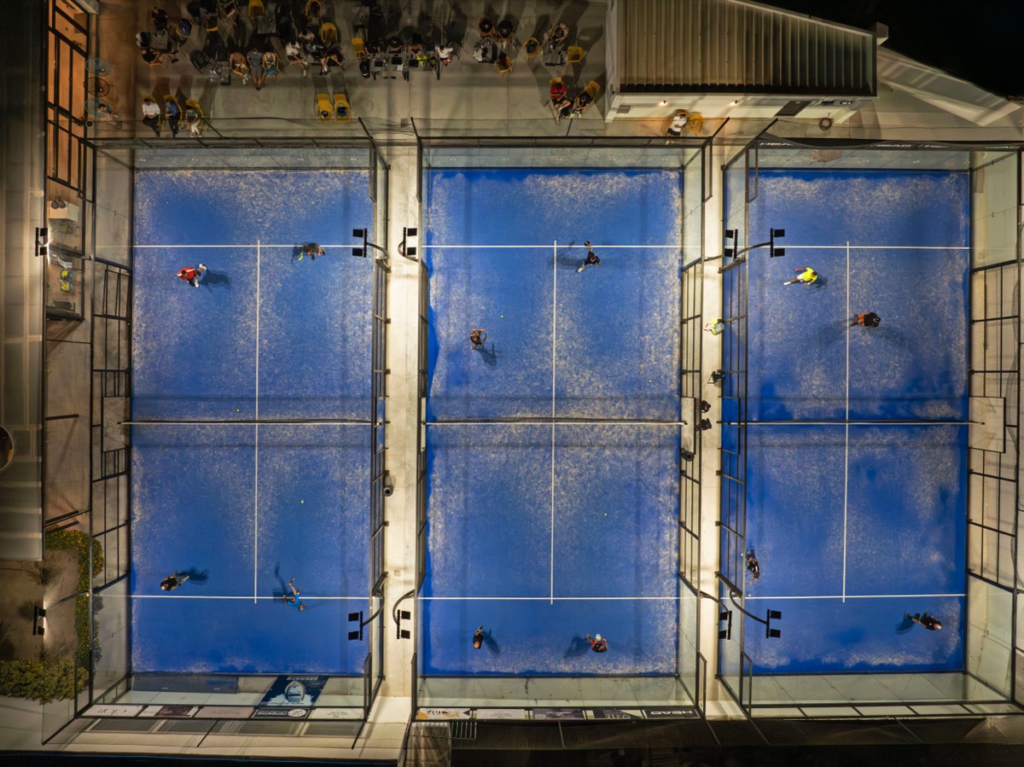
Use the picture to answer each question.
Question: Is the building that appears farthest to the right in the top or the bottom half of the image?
top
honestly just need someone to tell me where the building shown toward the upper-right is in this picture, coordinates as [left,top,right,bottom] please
[602,0,891,127]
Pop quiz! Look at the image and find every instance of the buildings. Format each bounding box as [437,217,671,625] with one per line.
[0,0,85,564]
[602,0,891,127]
